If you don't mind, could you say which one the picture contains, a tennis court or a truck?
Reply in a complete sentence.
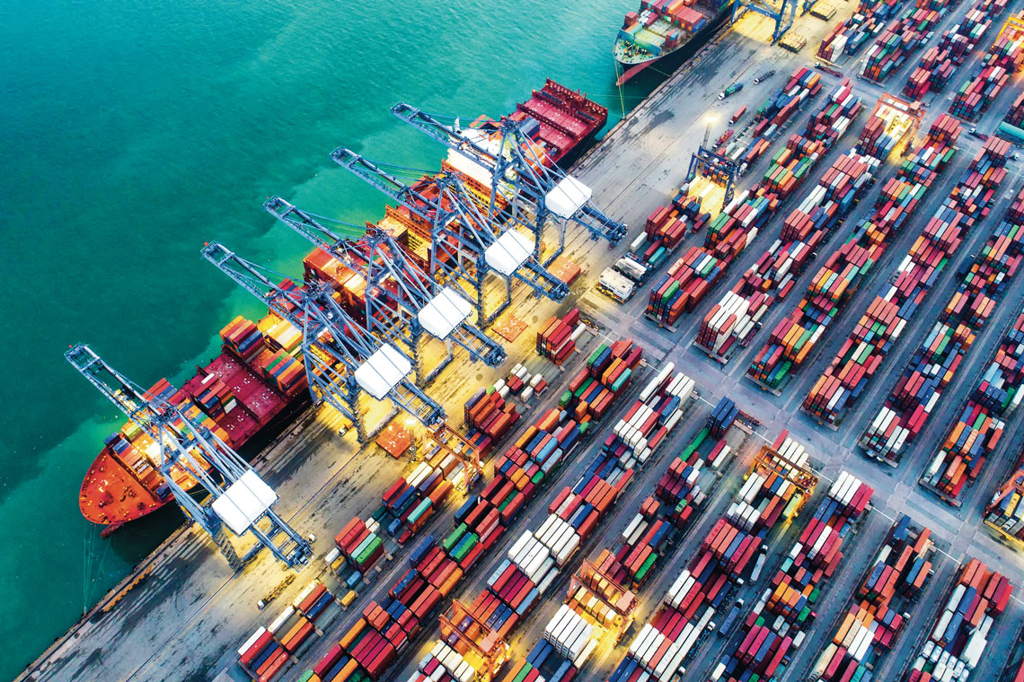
Looking from above, you can make out a truck.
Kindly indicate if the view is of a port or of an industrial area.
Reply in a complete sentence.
This image shows a port.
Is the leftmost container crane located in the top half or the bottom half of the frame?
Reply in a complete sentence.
The bottom half of the photo is where the leftmost container crane is.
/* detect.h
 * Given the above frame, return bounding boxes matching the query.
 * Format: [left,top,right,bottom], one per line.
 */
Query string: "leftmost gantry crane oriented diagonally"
[56,341,317,569]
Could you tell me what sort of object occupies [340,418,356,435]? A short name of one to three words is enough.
vehicle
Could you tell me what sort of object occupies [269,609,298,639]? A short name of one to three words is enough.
shipping container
